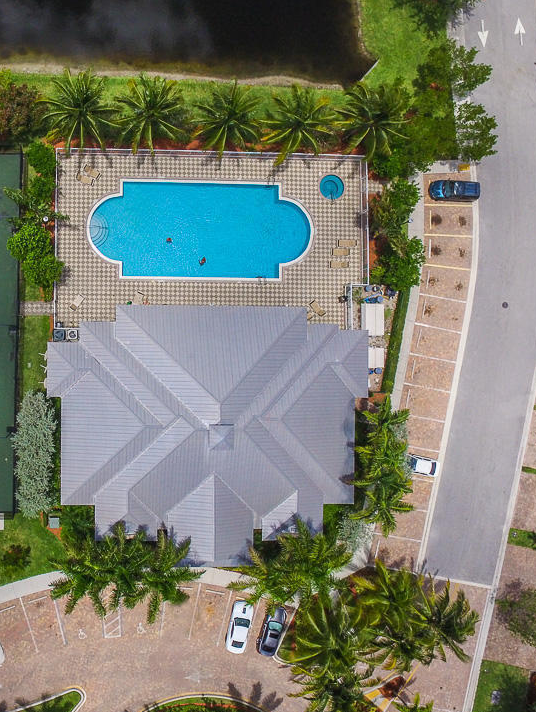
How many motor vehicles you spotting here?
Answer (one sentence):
There are 4 motor vehicles in the image.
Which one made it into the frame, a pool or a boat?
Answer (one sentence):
Looking from above, you can make out a pool.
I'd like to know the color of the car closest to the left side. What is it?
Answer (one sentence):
In this view, the car closest to the left side is white.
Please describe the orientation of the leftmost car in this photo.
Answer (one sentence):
In this picture, the leftmost car lies from top to bottom.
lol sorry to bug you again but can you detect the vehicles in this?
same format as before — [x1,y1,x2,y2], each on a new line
[390,449,441,476]
[226,598,254,655]
[256,604,286,658]
[426,177,482,203]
